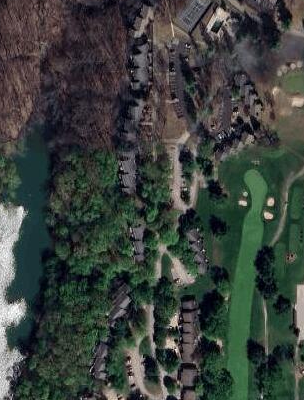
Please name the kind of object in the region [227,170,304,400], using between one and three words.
golf course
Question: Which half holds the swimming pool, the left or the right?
right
